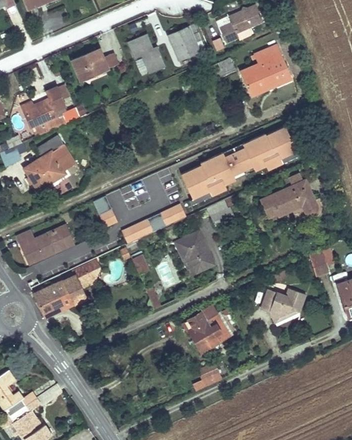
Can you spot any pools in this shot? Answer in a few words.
Yes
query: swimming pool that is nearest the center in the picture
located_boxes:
[155,254,180,290]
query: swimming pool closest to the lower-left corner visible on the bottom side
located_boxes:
[102,257,126,286]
